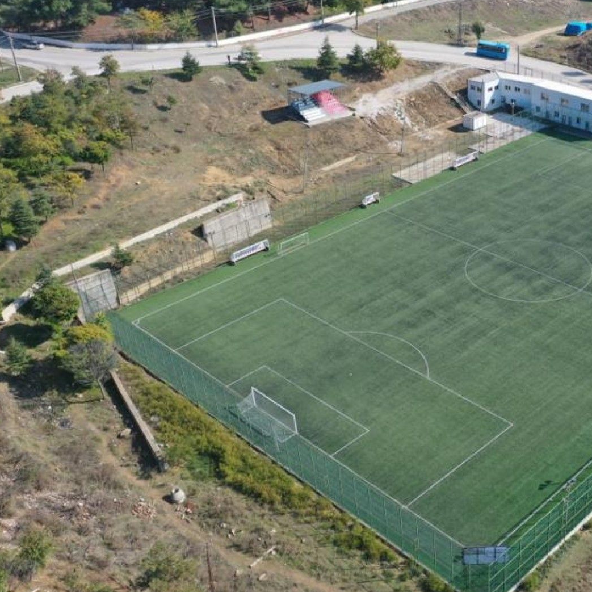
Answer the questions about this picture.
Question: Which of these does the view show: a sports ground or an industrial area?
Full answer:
This looks like a sports ground.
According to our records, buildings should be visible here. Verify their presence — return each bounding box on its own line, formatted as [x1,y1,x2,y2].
[463,110,486,129]
[467,66,592,134]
